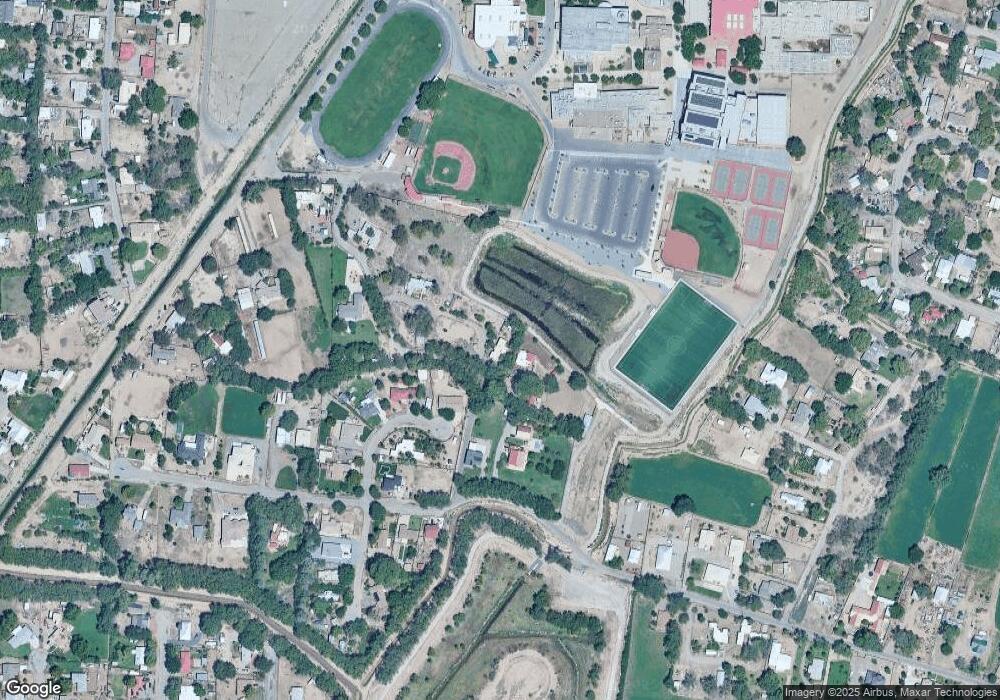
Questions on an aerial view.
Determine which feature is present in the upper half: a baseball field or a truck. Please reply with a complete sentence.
It is a baseball field that can be seen in the upper half.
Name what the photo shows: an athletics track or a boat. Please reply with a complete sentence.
The image shows an athletics track.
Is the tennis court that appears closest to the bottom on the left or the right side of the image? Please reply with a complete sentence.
The tennis court that appears closest to the bottom is on the right side of the image.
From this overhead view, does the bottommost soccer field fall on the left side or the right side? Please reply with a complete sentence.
The bottommost soccer field is on the right side of the image.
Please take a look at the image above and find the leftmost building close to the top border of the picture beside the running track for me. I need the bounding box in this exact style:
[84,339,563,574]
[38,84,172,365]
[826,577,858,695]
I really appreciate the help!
[475,0,526,48]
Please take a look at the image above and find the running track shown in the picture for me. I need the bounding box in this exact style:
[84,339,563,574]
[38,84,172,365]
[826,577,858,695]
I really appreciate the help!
[311,2,451,166]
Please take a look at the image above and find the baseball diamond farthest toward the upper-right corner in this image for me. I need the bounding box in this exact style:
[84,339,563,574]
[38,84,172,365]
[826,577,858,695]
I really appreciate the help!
[659,188,743,281]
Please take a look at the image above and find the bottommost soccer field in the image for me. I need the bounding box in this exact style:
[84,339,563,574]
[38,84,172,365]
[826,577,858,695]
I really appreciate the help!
[614,280,738,412]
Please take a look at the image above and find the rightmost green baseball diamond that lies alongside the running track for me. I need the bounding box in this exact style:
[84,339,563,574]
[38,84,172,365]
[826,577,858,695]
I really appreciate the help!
[414,79,545,206]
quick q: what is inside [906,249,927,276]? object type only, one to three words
house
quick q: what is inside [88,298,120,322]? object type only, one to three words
house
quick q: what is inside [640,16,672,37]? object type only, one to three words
building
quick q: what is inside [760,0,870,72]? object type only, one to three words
building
